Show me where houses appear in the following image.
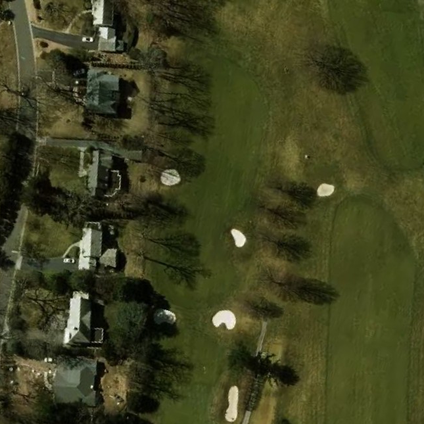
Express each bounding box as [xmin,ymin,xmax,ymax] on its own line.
[80,222,117,270]
[87,68,119,116]
[88,149,121,196]
[92,0,124,51]
[54,357,99,407]
[64,292,104,345]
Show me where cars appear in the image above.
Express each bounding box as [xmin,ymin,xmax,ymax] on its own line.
[64,258,75,263]
[82,37,93,42]
[74,69,84,76]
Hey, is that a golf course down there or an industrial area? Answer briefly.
golf course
